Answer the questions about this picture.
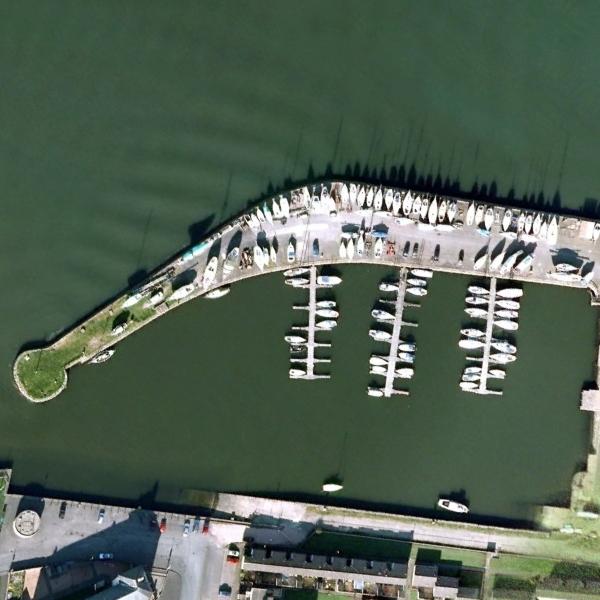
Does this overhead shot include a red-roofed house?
No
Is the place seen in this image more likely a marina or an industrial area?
marina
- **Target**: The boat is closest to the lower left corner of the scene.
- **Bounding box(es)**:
[88,350,116,364]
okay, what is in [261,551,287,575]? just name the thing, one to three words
house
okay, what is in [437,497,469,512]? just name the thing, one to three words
boat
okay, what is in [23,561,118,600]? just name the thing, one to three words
building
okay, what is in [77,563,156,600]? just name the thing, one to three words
building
